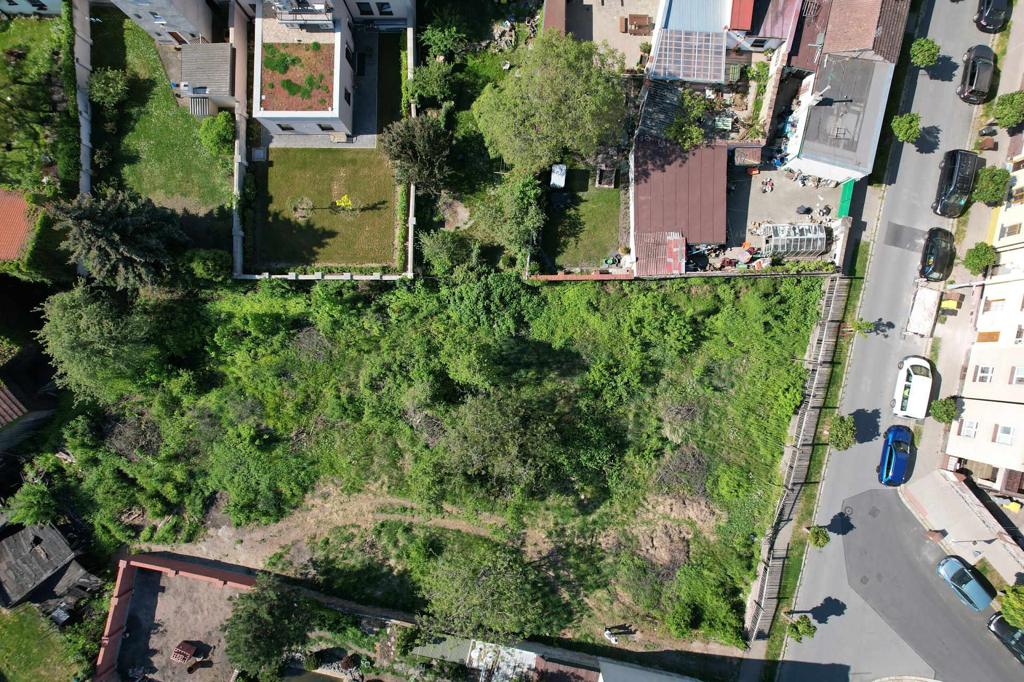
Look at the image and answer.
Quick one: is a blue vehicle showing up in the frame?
Yes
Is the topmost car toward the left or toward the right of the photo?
right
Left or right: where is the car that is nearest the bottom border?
right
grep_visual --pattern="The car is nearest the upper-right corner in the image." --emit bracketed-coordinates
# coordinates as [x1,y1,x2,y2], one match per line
[966,0,1007,36]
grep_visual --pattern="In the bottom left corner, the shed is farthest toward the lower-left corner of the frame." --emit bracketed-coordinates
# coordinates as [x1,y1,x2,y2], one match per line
[0,516,104,609]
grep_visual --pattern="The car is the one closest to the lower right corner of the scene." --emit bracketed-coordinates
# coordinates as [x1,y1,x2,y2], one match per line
[980,608,1024,670]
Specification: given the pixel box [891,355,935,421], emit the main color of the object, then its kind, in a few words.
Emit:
white car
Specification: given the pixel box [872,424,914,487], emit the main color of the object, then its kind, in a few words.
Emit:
blue car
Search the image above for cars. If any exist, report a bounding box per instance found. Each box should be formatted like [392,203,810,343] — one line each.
[931,147,981,219]
[952,46,996,107]
[872,424,914,487]
[980,608,1024,670]
[914,226,956,283]
[936,553,999,614]
[966,0,1007,36]
[891,355,935,421]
